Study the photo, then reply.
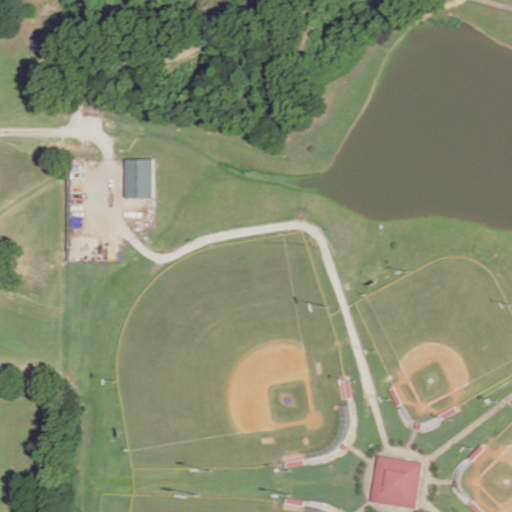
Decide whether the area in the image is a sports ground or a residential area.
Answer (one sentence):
It's a sports ground.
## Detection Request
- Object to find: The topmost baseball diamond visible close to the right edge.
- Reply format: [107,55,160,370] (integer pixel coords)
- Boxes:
[357,257,512,423]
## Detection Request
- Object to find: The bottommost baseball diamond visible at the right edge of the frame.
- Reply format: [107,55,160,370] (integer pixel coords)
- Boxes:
[461,422,512,512]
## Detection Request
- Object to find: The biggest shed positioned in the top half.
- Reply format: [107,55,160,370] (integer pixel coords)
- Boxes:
[124,158,154,198]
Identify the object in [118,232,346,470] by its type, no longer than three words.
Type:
baseball field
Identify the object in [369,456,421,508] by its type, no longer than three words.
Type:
building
